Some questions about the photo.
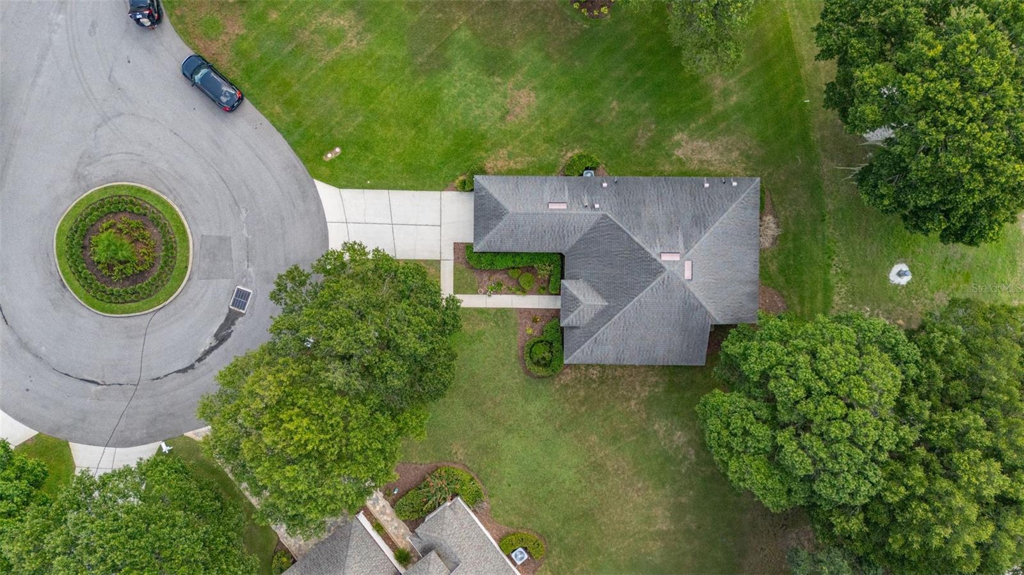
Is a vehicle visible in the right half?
No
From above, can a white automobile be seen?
No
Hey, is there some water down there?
No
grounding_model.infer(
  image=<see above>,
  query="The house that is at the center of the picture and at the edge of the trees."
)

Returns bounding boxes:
[472,174,761,366]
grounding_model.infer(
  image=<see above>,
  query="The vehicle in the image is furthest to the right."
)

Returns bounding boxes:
[180,52,246,115]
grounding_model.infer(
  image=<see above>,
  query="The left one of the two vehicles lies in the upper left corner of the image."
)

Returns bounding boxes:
[133,0,170,22]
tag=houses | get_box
[472,174,761,366]
[280,495,527,575]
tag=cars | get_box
[180,52,246,115]
[133,0,170,22]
